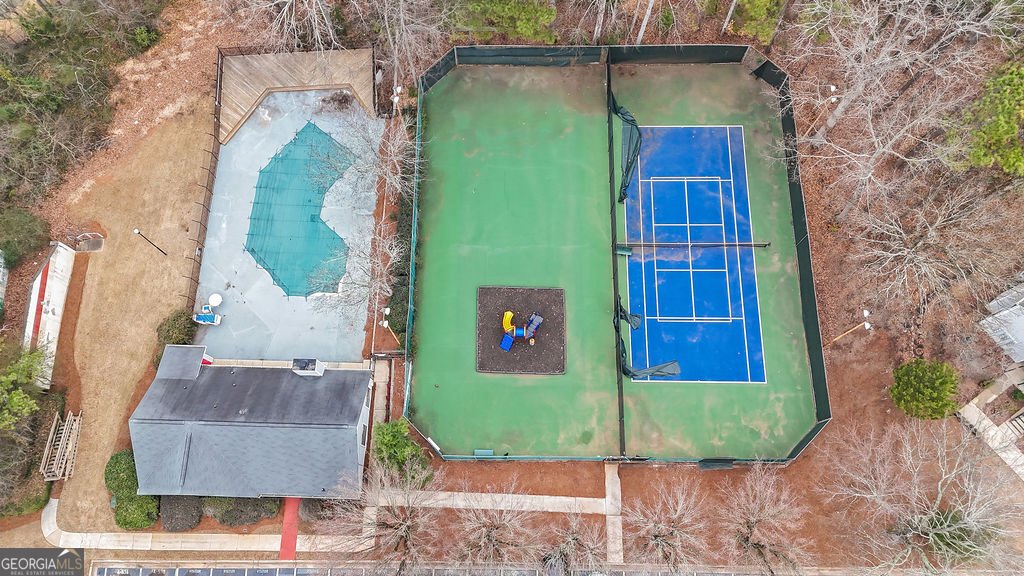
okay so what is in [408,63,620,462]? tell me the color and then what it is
green sports court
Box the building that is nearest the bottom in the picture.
[129,344,376,500]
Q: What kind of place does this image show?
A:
sports ground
